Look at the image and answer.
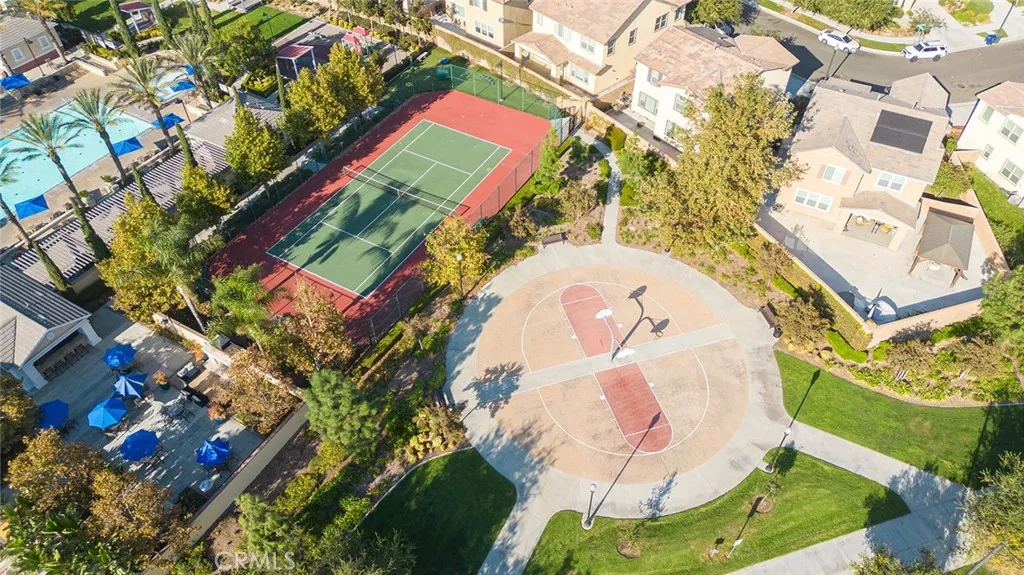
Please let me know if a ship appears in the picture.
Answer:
No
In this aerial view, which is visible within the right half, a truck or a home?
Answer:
home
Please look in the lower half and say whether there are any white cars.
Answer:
No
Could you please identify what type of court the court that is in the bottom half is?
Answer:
basketball court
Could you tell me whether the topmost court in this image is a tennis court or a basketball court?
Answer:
tennis court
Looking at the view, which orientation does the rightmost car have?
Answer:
from left to right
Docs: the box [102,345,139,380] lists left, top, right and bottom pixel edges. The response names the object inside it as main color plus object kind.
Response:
blue umbrella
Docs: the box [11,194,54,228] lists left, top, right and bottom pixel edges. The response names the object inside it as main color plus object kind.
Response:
blue umbrella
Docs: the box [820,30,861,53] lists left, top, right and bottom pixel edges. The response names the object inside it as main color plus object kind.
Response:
white car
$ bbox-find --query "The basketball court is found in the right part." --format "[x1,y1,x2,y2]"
[481,267,749,479]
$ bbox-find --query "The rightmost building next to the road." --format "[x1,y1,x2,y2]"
[958,74,1024,193]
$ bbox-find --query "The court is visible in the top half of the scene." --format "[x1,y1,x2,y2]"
[211,88,557,352]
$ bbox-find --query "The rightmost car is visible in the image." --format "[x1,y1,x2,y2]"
[905,39,951,62]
